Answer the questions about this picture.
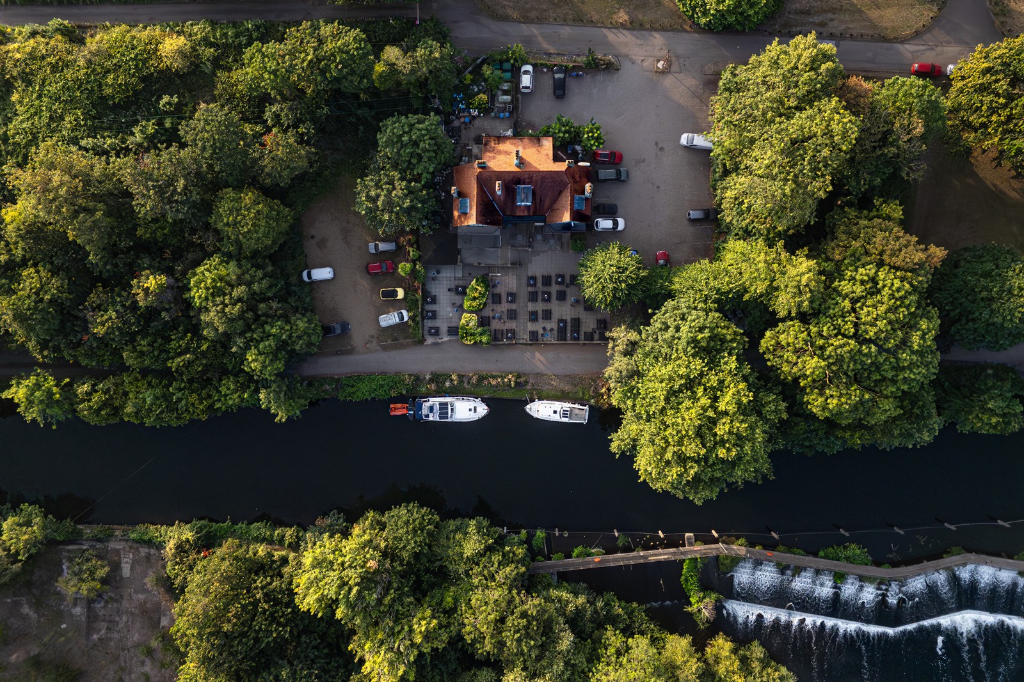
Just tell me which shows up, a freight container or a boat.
boat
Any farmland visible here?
No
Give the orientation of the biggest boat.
horizontally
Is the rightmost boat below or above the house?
below it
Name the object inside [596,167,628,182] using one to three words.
car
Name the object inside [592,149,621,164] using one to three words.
car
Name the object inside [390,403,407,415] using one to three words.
boat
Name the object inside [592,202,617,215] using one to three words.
vehicle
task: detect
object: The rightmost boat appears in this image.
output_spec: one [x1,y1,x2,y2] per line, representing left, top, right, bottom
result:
[525,402,589,425]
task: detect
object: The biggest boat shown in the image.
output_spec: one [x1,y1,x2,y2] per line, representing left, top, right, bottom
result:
[416,397,489,422]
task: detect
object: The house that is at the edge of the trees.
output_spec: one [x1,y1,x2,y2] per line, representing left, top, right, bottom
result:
[451,136,592,265]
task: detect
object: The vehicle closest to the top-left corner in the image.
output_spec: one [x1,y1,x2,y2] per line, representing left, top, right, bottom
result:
[303,267,335,282]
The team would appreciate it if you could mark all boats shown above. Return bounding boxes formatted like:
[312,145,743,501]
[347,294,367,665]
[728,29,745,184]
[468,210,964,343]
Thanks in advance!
[525,402,589,425]
[416,397,489,422]
[390,403,407,415]
[407,398,416,420]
